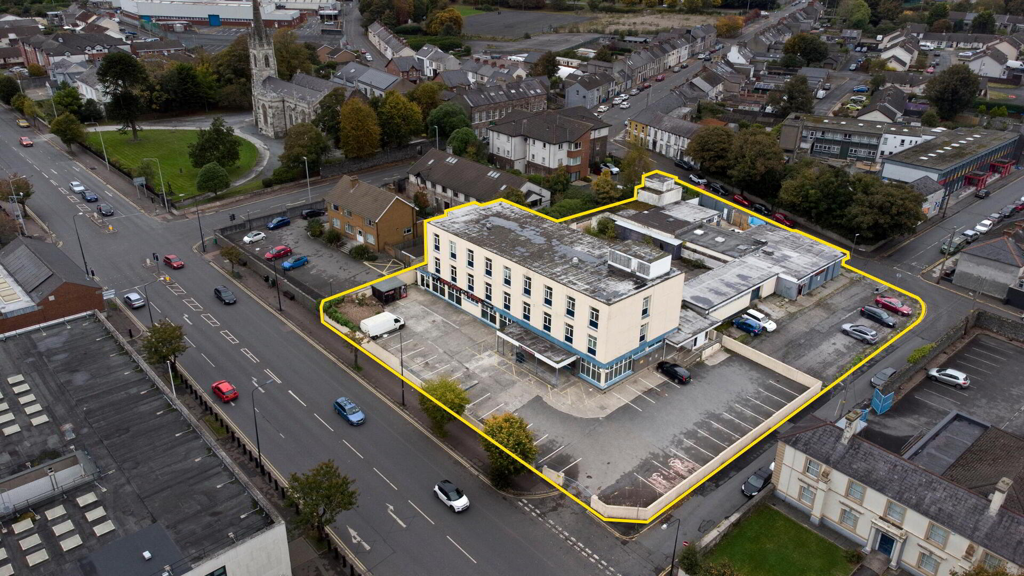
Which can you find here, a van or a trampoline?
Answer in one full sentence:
It is a van that can be seen here.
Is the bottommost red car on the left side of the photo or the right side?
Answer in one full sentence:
The bottommost red car is on the left side of the image.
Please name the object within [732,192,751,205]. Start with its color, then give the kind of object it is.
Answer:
red vehicle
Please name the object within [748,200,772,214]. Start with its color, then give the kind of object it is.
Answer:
black car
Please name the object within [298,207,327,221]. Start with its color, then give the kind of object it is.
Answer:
black car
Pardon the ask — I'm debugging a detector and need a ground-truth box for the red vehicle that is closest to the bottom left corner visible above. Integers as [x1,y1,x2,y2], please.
[208,383,239,407]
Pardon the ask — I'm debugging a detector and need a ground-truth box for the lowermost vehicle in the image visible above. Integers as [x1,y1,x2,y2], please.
[431,480,472,517]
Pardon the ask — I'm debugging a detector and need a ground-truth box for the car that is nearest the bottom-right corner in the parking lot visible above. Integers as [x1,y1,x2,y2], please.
[933,364,976,387]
